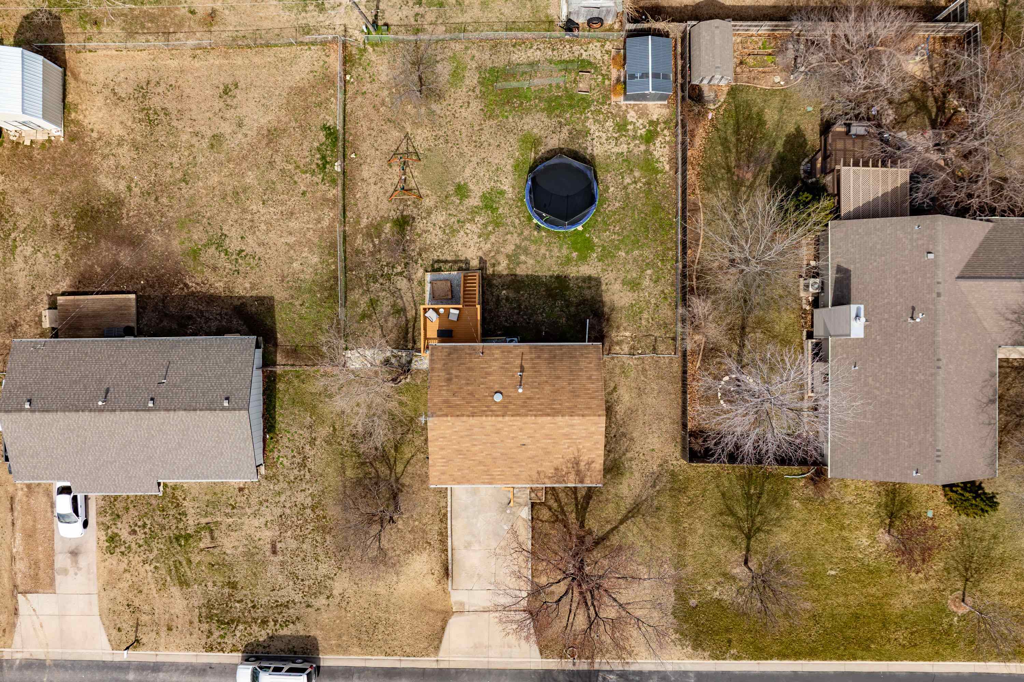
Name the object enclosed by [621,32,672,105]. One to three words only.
shed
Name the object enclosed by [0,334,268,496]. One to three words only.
house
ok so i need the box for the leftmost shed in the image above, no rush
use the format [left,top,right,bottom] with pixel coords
[0,40,62,137]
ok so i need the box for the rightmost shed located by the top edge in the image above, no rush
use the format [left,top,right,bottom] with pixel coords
[688,16,733,90]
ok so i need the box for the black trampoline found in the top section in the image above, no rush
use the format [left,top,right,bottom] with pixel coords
[524,154,599,236]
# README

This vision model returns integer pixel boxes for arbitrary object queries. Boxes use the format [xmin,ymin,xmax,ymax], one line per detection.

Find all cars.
[237,661,317,682]
[49,484,89,541]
